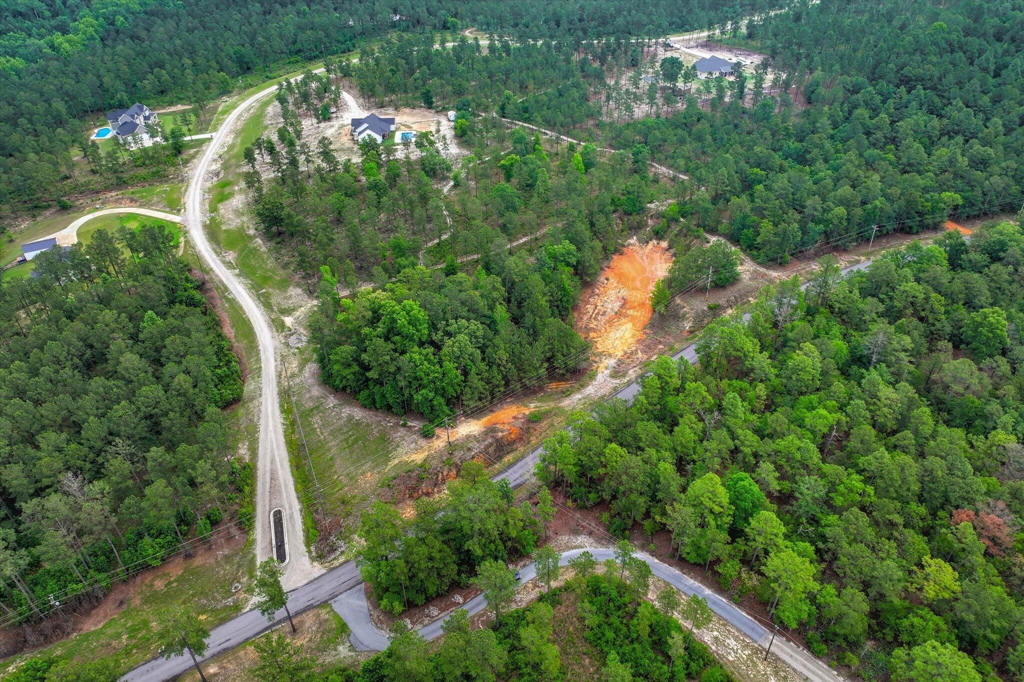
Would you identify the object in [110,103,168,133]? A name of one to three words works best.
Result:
house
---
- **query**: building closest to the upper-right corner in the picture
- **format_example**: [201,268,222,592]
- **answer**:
[681,57,735,80]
